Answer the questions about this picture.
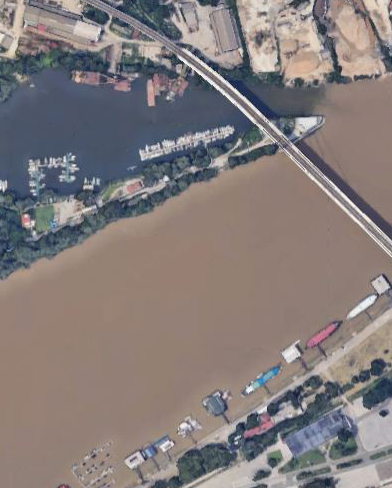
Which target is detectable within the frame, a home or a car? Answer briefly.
home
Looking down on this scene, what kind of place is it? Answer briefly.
port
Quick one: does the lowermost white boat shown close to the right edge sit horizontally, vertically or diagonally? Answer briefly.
diagonally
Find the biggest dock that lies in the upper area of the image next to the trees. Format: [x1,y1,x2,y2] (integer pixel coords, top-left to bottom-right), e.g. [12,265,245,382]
[139,128,239,161]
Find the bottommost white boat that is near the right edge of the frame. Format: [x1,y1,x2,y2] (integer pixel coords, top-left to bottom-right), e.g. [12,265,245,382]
[346,295,377,320]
